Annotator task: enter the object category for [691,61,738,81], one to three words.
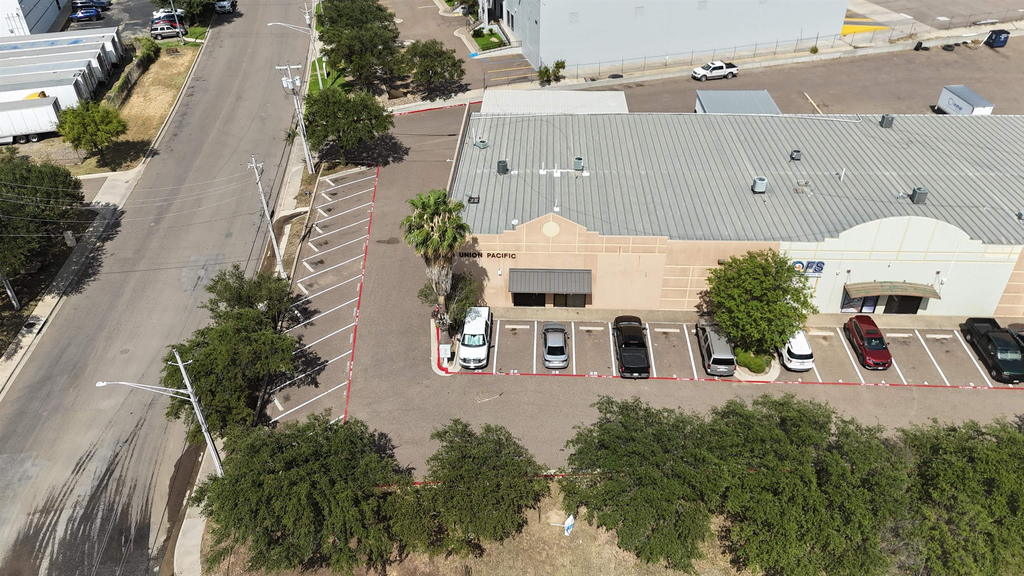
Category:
vehicle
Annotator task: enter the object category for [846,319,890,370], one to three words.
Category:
car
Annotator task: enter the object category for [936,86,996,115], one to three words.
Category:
trailer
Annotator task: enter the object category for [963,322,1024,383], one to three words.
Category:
truck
